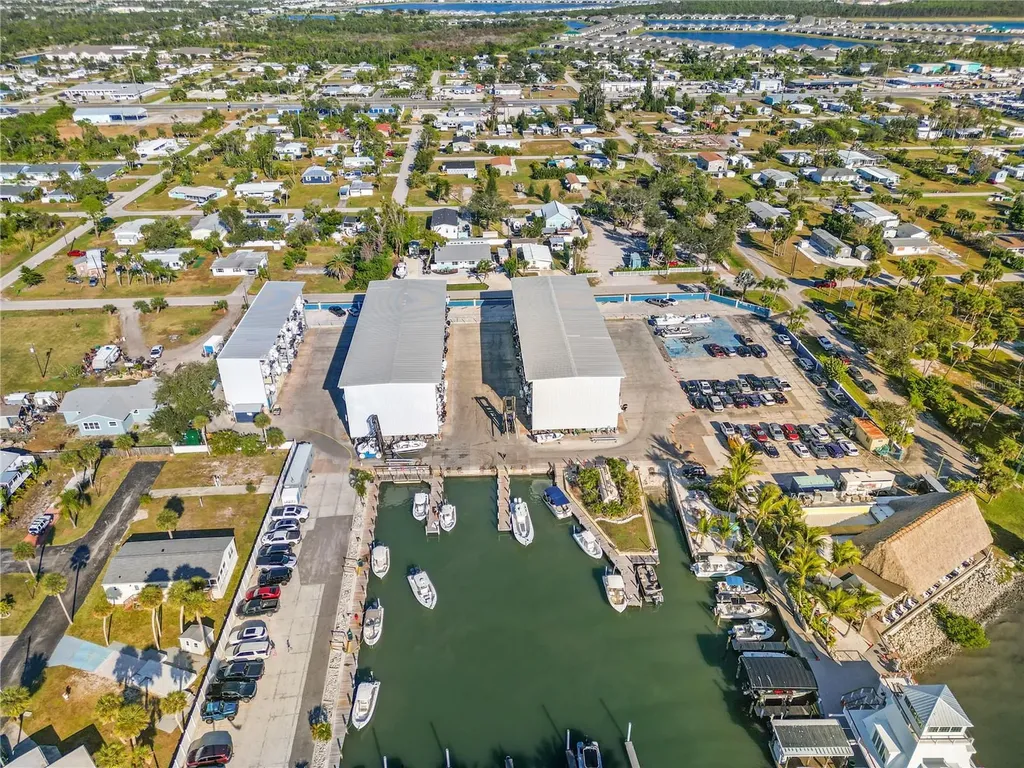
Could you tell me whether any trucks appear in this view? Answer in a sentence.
Yes, the image includes a truck.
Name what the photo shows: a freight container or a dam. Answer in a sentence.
There is a freight container in the scene.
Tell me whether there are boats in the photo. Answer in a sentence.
Yes, the frame does contain a boat.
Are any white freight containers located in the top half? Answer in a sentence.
No, I can find no white freight container in the top half.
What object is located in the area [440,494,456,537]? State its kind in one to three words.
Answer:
boat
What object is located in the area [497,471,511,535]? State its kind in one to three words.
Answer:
pier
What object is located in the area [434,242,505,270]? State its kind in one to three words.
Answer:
house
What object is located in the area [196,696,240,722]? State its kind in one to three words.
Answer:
car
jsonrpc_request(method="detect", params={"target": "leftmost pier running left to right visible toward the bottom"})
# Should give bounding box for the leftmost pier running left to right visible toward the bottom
[373,465,441,489]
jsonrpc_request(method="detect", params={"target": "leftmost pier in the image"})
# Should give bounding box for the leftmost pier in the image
[327,478,379,768]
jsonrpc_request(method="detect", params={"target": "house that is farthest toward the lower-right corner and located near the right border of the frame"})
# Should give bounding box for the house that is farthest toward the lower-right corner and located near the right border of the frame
[836,682,982,768]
